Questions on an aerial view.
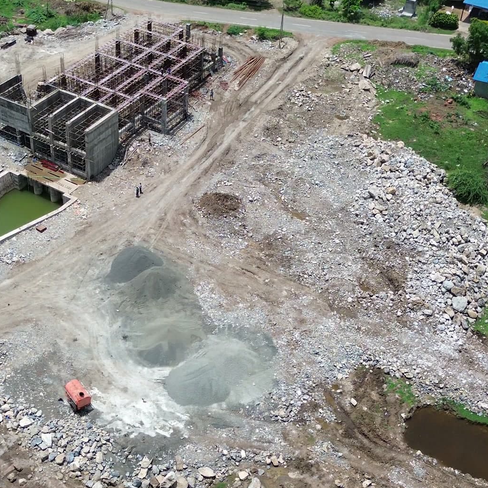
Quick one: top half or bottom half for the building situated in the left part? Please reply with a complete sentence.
The top half of the photo is where the building situated in the left part is.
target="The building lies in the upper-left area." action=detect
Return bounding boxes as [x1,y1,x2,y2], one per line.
[0,14,225,177]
